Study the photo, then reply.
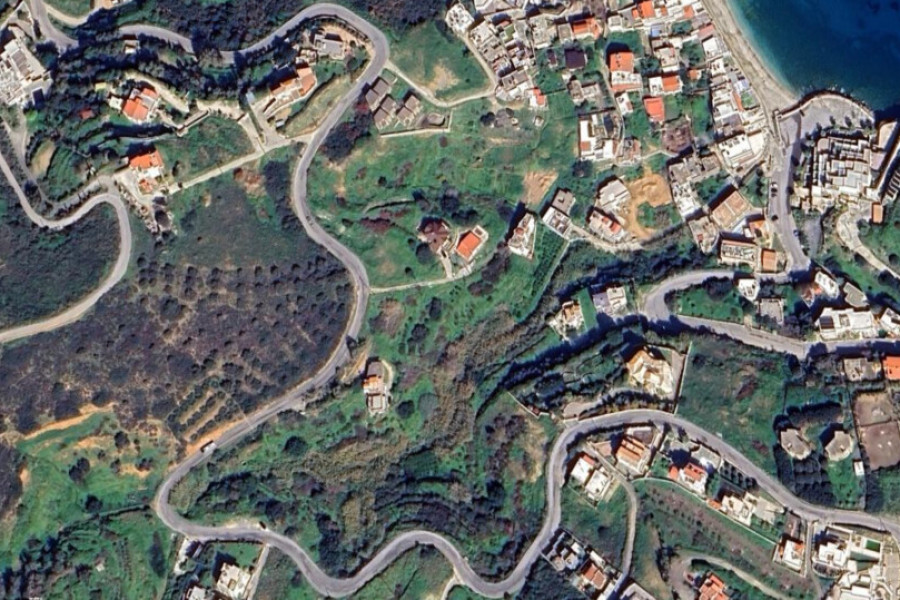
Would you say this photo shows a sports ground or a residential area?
residential area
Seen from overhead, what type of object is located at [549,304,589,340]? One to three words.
house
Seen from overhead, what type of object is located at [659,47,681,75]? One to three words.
house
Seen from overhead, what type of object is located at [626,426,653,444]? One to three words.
shed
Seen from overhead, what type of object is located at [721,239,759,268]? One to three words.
building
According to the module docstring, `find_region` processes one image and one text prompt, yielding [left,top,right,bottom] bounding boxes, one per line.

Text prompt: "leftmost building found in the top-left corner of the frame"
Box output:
[0,26,54,108]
